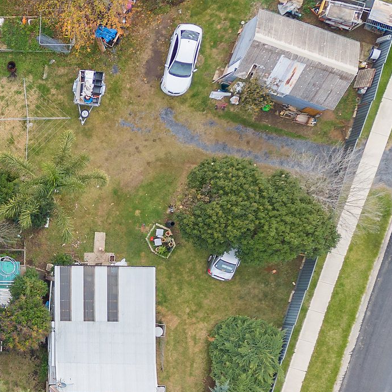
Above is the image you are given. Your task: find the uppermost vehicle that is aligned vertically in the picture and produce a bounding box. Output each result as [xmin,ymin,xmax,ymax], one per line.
[163,22,201,96]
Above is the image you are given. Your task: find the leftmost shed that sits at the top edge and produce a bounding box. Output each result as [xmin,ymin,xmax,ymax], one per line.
[222,10,360,111]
